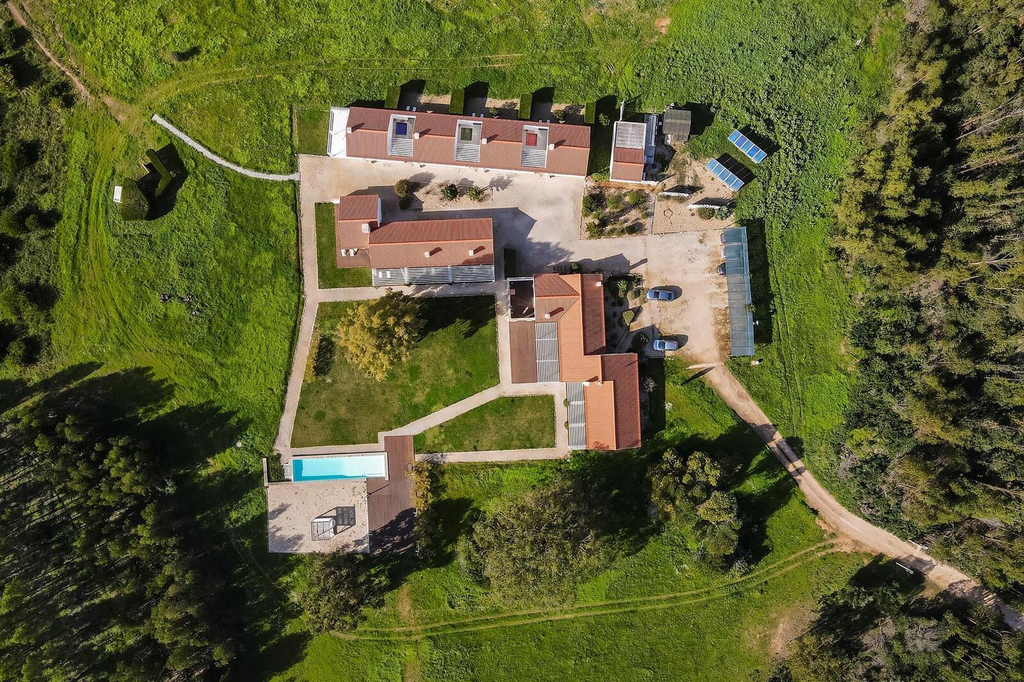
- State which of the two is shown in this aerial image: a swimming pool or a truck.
swimming pool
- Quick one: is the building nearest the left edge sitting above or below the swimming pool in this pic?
below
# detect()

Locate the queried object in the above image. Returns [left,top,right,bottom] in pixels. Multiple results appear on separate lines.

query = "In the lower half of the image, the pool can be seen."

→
[290,452,390,483]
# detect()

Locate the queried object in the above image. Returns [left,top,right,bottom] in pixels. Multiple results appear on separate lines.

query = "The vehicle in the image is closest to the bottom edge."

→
[655,339,679,351]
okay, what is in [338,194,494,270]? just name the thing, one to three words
house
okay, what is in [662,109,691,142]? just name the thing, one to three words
shed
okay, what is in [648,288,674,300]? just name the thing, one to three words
vehicle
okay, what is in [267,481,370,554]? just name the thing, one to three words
building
